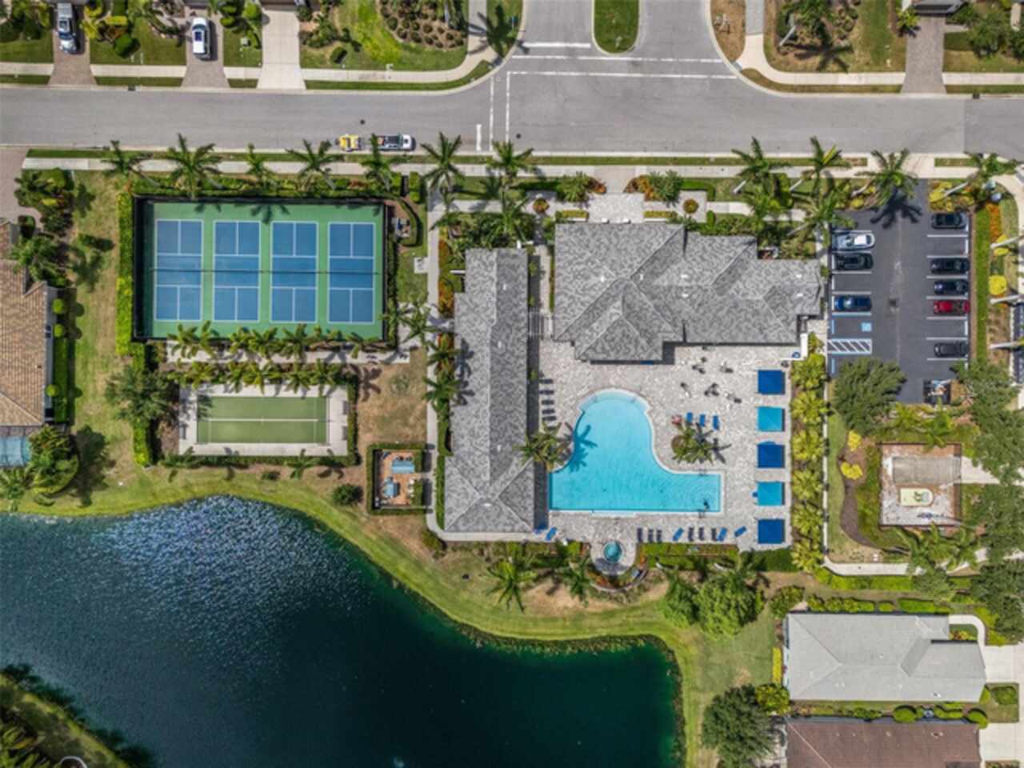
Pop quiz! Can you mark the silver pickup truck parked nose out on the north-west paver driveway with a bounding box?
[57,3,80,52]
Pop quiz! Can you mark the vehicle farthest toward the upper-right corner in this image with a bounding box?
[928,212,963,229]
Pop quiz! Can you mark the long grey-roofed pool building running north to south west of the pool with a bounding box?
[444,246,535,532]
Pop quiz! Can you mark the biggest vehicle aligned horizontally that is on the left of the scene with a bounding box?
[371,132,415,152]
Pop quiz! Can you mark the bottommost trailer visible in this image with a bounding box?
[926,377,955,405]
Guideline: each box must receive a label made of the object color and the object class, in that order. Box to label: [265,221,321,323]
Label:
blue sports court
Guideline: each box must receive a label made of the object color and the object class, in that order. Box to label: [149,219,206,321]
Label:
blue sports court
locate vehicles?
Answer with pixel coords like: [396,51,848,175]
[928,212,963,229]
[832,295,871,313]
[931,279,966,296]
[371,132,415,152]
[57,3,80,52]
[932,299,968,316]
[191,20,211,59]
[833,253,872,271]
[932,341,966,358]
[928,257,966,275]
[833,232,874,250]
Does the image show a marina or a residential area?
residential area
